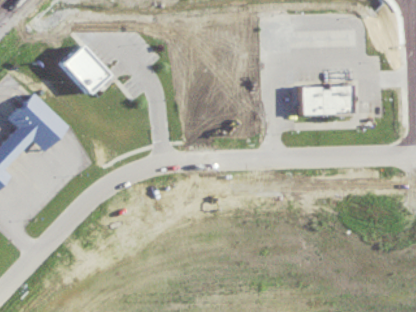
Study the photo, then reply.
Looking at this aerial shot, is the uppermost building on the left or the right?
left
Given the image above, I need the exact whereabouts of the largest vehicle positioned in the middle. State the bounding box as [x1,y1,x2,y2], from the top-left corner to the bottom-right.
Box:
[212,122,239,136]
